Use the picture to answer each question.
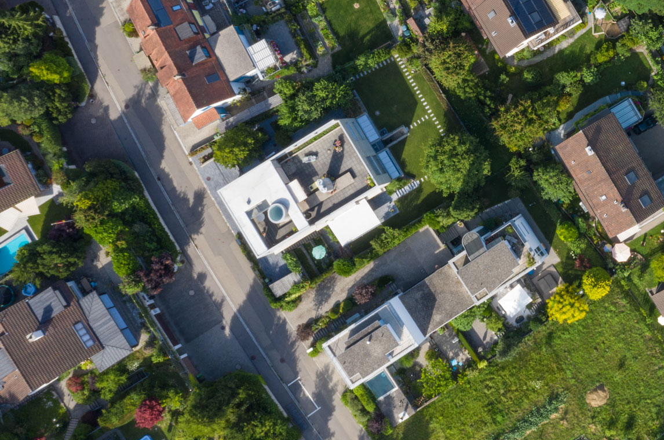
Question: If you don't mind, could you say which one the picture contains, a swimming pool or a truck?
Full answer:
This aerial view contains a swimming pool.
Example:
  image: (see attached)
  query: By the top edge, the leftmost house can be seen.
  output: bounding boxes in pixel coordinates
[127,0,260,129]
